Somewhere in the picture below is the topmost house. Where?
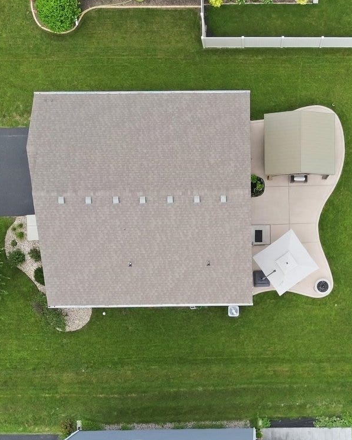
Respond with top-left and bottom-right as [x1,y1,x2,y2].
[24,90,251,308]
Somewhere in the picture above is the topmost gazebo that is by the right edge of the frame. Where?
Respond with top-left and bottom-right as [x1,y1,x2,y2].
[264,111,335,180]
